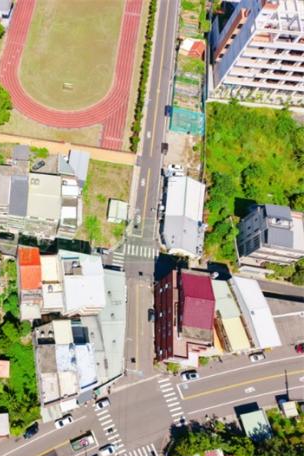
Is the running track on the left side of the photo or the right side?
left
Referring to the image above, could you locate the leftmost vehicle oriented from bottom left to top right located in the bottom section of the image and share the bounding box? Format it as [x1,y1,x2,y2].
[20,422,40,439]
